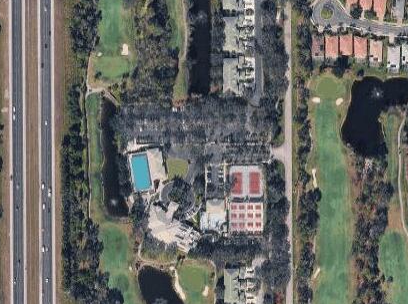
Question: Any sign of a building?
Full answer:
Yes, the photo shows a building.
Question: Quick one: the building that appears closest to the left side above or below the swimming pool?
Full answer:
It's below the swimming pool that the building that appears closest to the left side shows up.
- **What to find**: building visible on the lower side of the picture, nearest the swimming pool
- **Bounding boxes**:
[148,199,202,244]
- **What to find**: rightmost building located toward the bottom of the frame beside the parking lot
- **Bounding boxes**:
[206,200,225,221]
